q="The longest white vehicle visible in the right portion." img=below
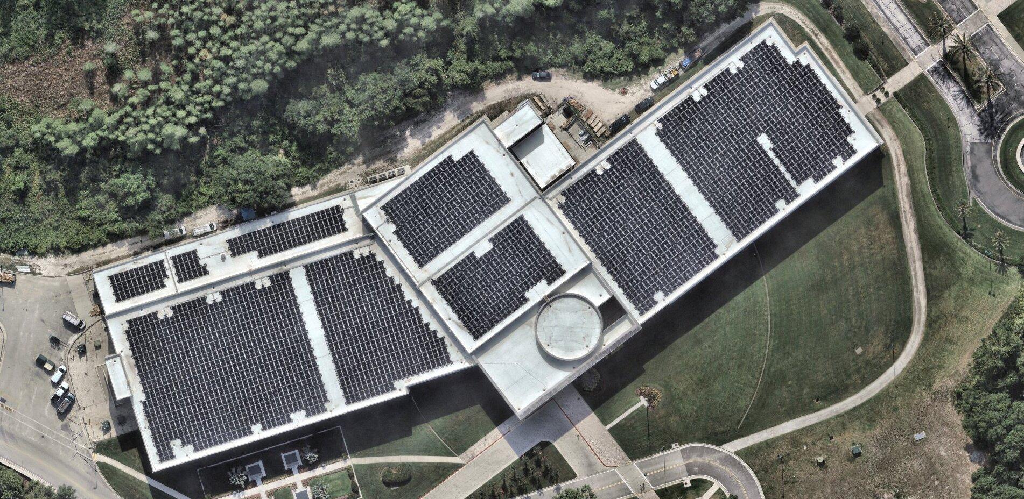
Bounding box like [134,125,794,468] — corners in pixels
[650,70,678,90]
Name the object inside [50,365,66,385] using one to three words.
car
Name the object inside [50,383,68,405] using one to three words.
vehicle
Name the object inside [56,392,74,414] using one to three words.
vehicle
